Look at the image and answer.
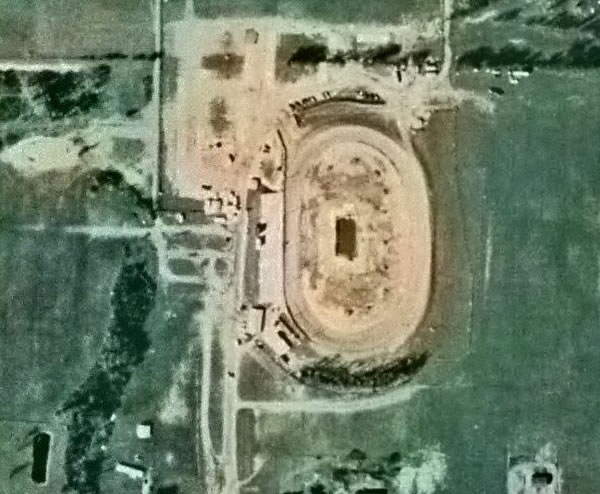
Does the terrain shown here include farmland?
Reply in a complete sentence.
Yes, there's farmland in this view.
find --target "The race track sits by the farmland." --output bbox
[285,114,442,369]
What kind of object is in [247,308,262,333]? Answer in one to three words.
building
